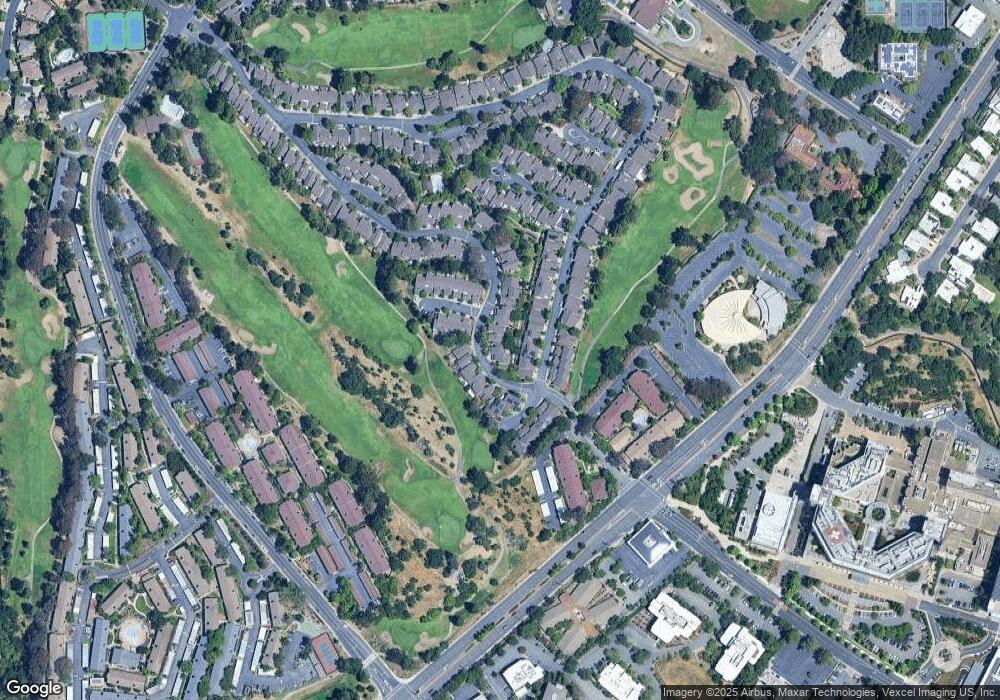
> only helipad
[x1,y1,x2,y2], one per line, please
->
[829,527,849,547]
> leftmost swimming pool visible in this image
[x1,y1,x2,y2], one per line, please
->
[56,48,74,64]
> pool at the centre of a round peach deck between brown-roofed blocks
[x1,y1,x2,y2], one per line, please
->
[118,617,147,647]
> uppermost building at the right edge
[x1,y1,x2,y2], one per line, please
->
[953,4,987,37]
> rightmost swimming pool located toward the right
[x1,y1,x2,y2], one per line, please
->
[632,407,650,428]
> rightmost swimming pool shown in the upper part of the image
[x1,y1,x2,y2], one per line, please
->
[431,174,443,193]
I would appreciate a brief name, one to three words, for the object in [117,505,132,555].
building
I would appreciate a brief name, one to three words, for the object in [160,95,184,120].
swimming pool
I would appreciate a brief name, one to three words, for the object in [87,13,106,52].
tennis court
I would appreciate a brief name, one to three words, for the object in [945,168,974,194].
house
